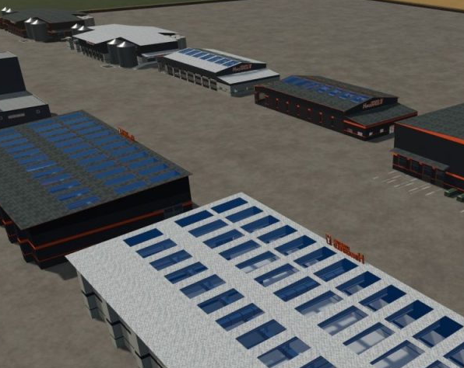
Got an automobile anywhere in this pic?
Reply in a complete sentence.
No, there isn't any automobile down there.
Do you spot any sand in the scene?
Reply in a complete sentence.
No, sand can't be seen anywhere here.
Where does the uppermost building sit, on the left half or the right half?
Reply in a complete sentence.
It is on the left.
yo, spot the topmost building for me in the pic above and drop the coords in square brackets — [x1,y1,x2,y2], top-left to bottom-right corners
[0,9,97,43]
